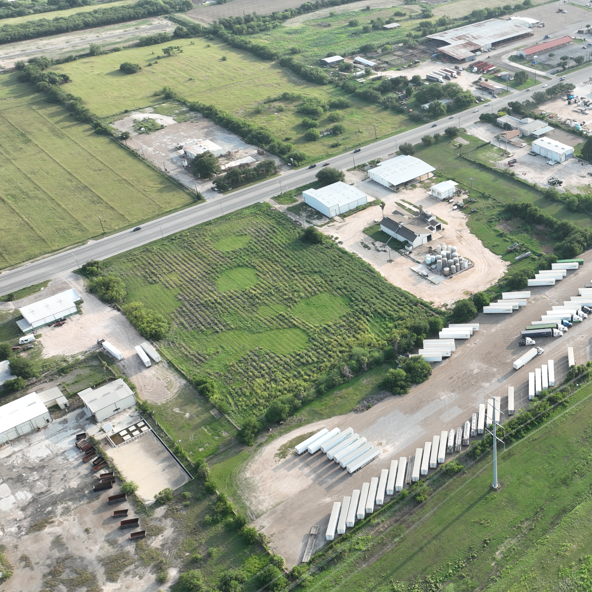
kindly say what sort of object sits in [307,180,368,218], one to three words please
building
